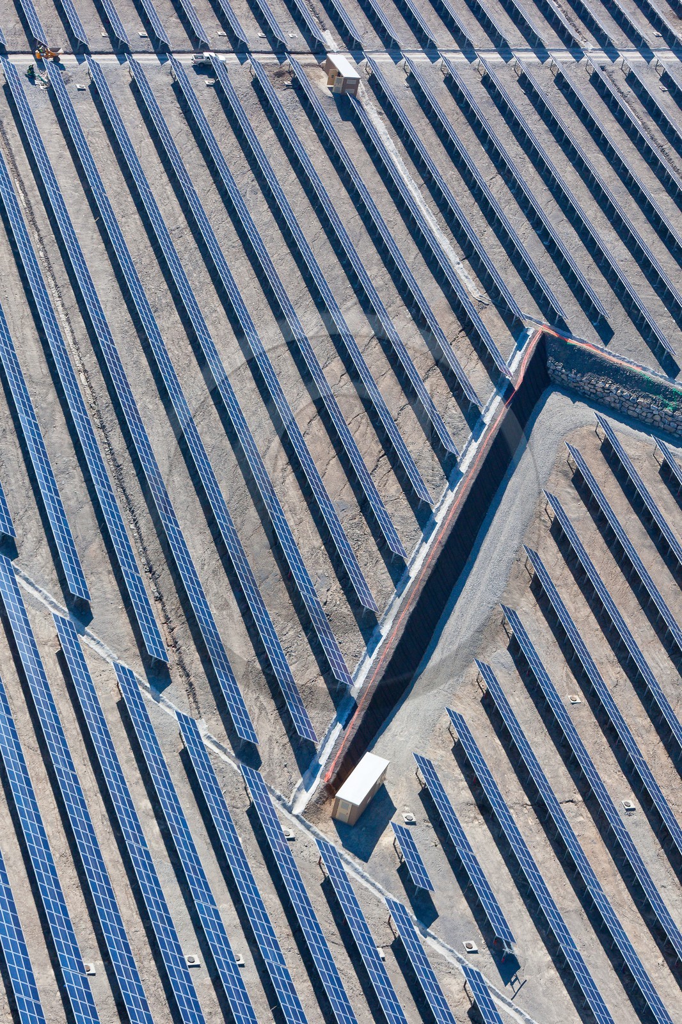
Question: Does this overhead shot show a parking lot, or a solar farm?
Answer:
solar farm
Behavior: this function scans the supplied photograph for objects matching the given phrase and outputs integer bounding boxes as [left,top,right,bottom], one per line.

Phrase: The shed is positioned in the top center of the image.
[331,53,361,94]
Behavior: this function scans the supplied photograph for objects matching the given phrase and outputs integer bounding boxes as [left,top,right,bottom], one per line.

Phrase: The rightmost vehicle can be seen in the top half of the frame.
[191,51,227,67]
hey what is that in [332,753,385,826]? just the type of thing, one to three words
shed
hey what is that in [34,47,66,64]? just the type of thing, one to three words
vehicle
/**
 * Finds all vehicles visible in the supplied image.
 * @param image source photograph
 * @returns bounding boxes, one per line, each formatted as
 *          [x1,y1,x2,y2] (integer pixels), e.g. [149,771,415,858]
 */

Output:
[34,47,66,64]
[191,51,227,67]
